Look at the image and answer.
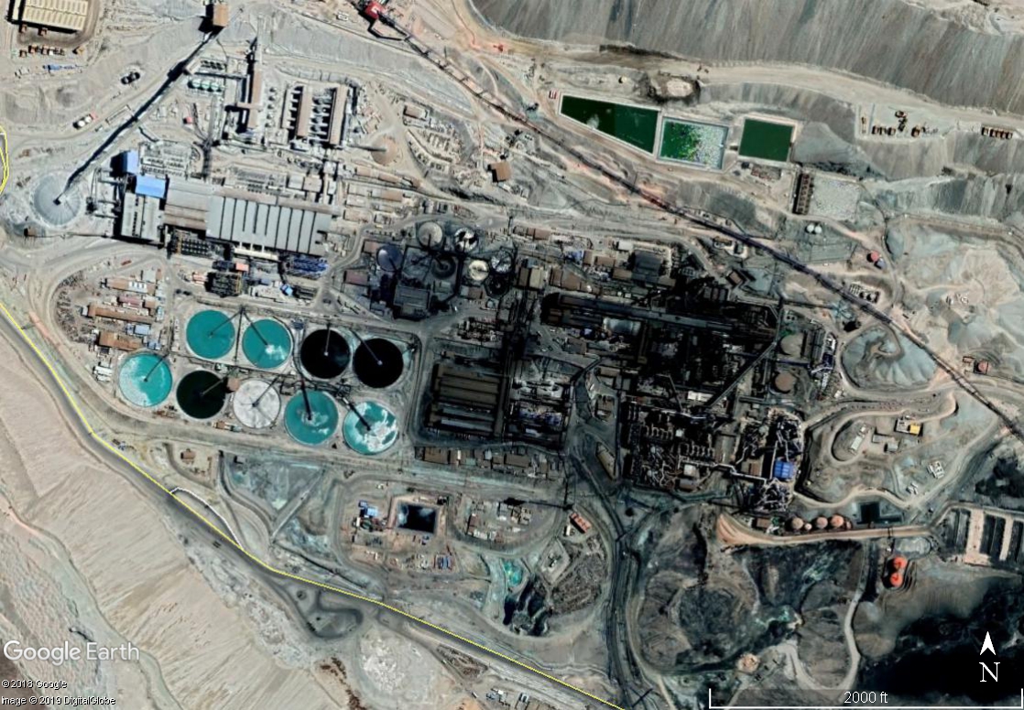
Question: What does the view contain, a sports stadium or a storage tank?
storage tank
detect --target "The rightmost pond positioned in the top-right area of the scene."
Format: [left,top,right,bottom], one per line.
[737,118,796,163]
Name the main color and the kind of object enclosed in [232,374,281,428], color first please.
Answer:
white storage tank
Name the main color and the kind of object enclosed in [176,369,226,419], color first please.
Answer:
black storage tank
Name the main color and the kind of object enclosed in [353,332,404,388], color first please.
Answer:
black storage tank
